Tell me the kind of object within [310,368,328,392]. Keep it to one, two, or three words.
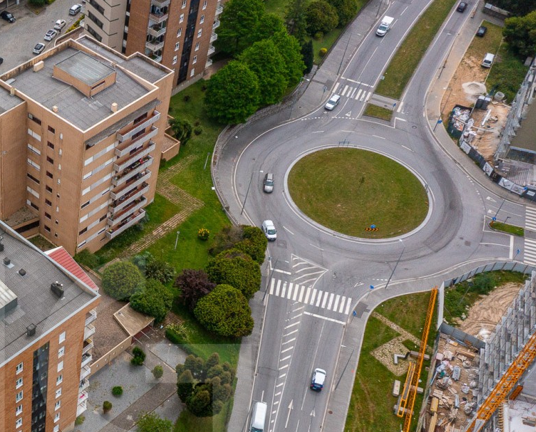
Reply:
car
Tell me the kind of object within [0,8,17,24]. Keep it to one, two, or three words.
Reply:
car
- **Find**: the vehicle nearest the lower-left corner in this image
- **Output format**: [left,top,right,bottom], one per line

[248,398,269,432]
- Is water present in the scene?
No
